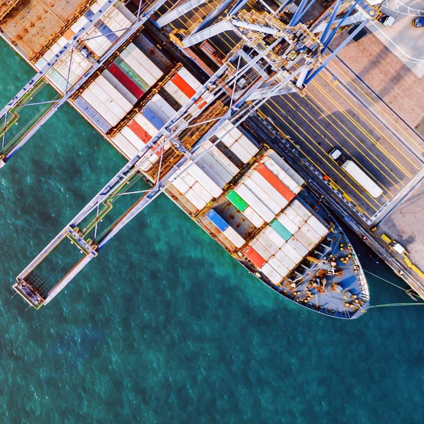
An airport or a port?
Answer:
port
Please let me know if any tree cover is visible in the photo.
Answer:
No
